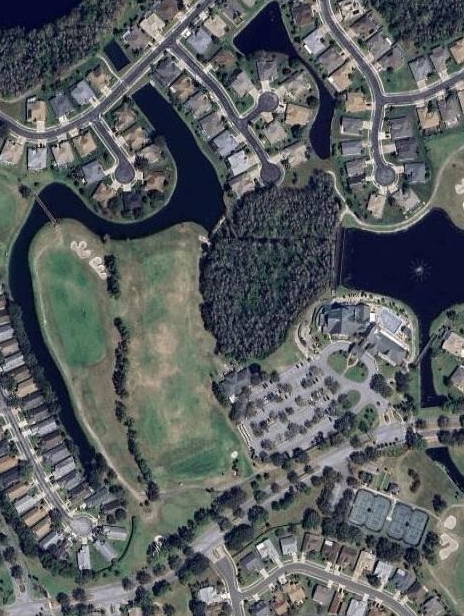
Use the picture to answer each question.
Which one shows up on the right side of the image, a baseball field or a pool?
pool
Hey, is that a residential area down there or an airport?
residential area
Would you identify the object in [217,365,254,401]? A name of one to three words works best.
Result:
barn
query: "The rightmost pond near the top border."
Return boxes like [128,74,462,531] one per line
[233,1,334,159]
